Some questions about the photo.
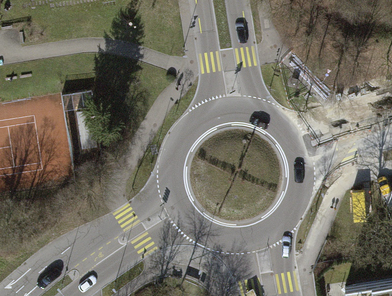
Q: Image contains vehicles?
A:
Yes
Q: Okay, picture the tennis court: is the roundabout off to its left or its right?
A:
to the right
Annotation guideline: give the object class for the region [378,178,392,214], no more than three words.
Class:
vehicle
